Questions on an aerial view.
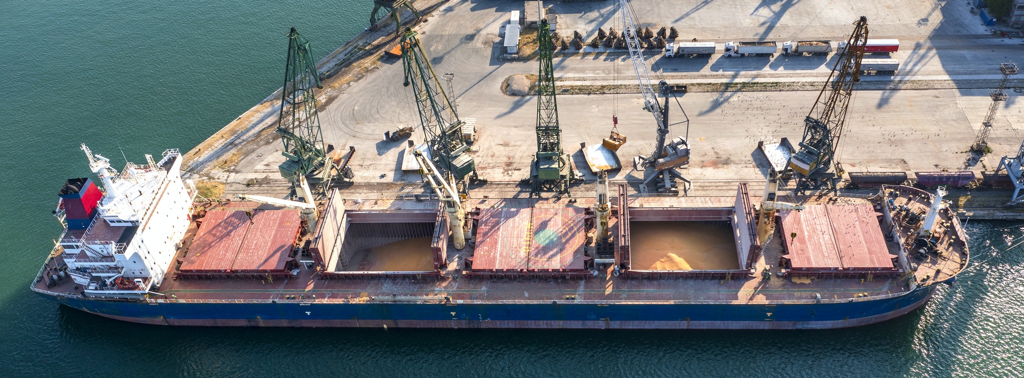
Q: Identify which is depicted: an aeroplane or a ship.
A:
ship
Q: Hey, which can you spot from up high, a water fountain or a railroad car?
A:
railroad car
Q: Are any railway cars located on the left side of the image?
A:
No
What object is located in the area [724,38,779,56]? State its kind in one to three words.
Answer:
vehicle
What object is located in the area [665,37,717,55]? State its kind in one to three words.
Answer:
vehicle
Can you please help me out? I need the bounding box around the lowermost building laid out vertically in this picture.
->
[501,24,521,56]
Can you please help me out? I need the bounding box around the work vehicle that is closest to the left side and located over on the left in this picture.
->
[384,122,418,141]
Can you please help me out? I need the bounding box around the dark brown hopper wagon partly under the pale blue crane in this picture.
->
[974,165,1024,185]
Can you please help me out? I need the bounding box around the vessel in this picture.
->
[28,138,970,329]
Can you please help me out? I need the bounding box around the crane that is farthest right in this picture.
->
[984,145,1024,203]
